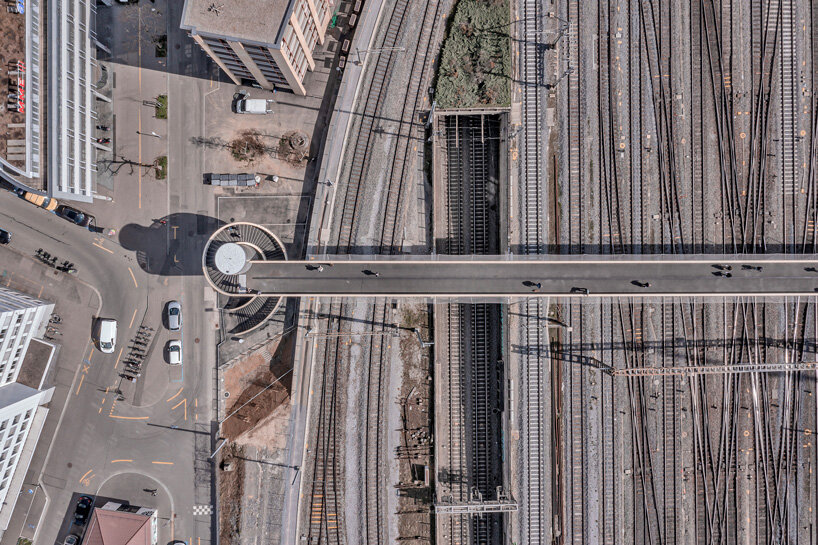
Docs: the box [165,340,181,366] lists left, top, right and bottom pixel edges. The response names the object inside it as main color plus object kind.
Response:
white car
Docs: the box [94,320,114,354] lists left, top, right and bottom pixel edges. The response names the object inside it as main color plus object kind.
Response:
white vehicle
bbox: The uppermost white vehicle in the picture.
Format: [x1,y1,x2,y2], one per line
[237,93,276,110]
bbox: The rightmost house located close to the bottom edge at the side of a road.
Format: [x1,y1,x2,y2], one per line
[89,502,158,545]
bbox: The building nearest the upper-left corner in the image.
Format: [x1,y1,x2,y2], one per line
[0,0,113,204]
